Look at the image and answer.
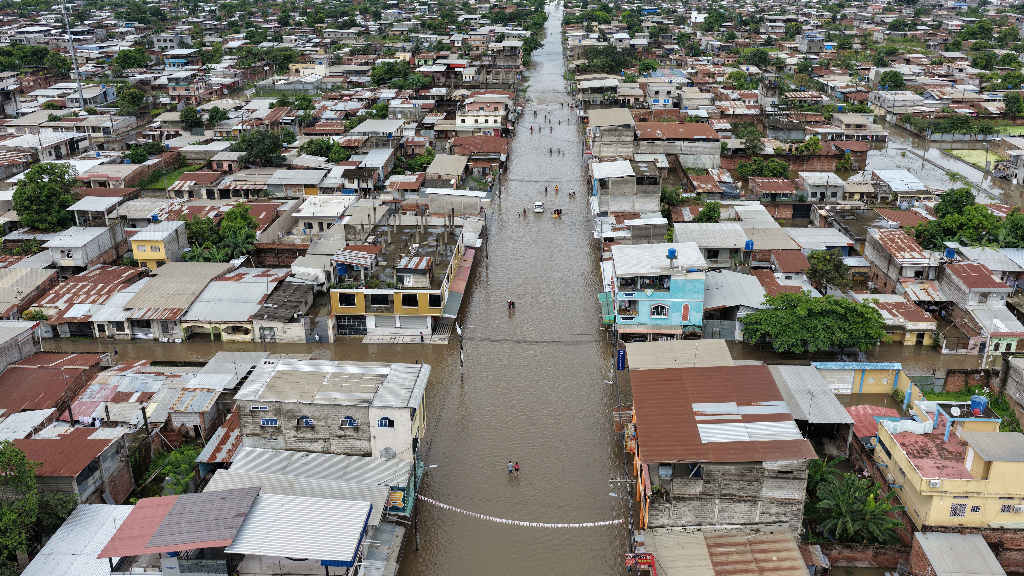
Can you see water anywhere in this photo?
Yes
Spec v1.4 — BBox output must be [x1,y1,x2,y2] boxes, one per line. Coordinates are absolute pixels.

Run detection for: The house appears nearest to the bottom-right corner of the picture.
[911,532,1006,576]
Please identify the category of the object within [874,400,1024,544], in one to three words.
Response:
building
